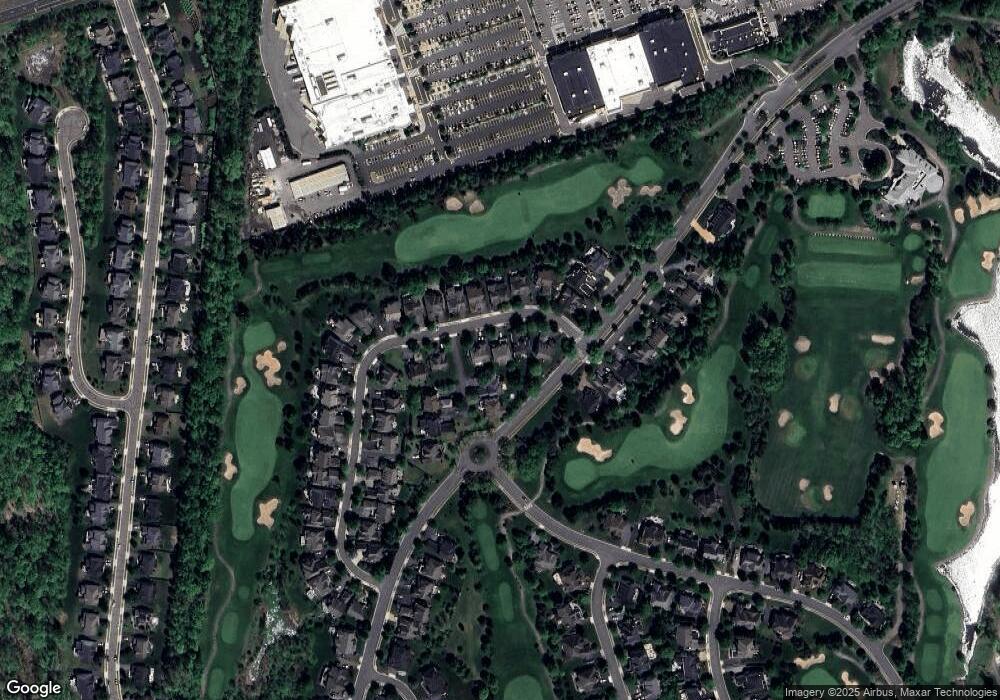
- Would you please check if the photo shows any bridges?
No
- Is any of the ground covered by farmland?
No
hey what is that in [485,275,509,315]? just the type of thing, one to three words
house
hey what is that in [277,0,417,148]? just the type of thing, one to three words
building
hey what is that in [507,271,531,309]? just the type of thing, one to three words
house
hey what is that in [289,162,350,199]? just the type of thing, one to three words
building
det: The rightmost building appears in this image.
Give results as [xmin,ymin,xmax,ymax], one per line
[880,140,944,210]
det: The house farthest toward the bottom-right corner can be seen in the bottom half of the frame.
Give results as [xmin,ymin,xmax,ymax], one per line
[856,598,885,637]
